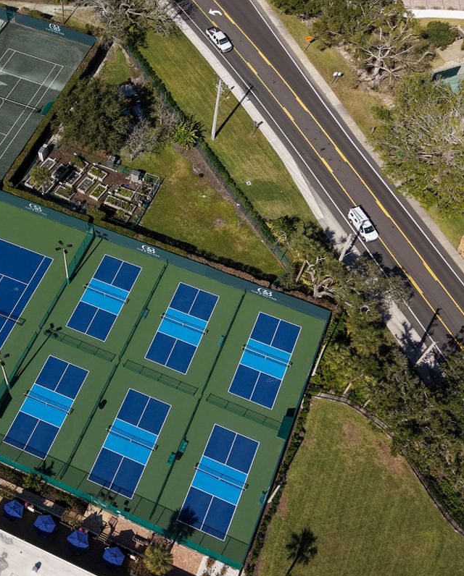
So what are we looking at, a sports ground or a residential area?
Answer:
sports ground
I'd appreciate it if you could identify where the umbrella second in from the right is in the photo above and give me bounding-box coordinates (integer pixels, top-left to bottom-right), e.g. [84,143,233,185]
[67,528,91,554]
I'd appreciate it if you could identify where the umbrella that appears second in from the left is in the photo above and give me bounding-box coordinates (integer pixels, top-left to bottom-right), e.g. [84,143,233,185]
[34,514,58,538]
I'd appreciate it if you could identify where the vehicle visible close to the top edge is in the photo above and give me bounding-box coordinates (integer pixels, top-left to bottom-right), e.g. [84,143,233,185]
[205,25,234,49]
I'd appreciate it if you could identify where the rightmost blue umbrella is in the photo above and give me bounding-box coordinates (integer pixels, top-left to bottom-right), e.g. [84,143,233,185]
[102,545,127,570]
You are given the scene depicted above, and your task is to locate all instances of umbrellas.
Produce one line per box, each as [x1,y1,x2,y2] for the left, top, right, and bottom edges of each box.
[67,528,91,554]
[102,545,127,570]
[34,514,58,538]
[2,500,26,524]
